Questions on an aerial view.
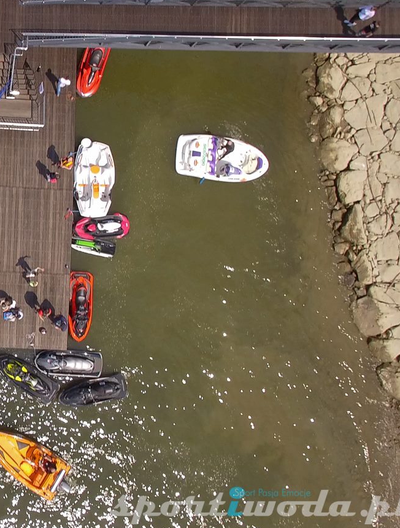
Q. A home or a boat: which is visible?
boat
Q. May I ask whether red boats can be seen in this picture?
Yes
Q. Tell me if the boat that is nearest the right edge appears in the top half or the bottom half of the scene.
top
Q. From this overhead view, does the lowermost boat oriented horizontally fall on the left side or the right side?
left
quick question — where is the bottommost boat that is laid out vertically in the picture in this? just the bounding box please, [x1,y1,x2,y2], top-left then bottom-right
[69,270,95,342]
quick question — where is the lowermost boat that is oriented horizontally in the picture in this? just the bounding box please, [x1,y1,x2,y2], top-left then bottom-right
[57,370,131,406]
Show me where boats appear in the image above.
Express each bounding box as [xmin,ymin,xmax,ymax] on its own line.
[69,270,95,342]
[34,350,103,377]
[71,237,117,259]
[80,51,114,98]
[74,214,131,239]
[70,140,115,217]
[0,428,74,499]
[170,136,269,184]
[0,355,62,410]
[57,370,131,406]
